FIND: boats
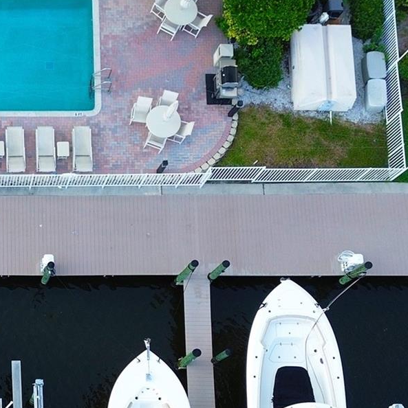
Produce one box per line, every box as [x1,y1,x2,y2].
[106,335,189,408]
[239,274,343,408]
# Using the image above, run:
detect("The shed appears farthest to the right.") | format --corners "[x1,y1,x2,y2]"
[290,21,361,110]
